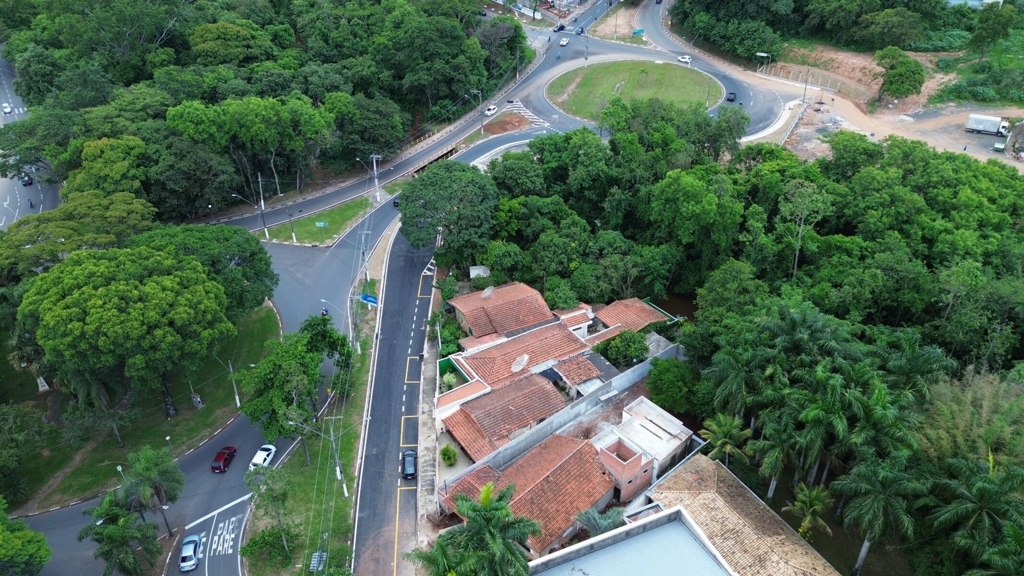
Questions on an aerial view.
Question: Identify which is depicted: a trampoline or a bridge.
bridge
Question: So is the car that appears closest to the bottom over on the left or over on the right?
left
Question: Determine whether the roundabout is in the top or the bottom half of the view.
top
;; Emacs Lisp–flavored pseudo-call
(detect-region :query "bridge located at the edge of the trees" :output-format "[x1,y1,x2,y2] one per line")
[397,126,482,173]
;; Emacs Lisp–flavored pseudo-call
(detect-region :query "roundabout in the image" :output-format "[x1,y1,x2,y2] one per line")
[441,0,802,162]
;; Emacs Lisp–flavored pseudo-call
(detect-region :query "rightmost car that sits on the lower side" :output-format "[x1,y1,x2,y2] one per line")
[401,451,417,478]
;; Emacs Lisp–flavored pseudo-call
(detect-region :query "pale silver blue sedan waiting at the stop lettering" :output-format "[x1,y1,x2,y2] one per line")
[178,533,201,570]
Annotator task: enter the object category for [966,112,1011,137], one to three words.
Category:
truck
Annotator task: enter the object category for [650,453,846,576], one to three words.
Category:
house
